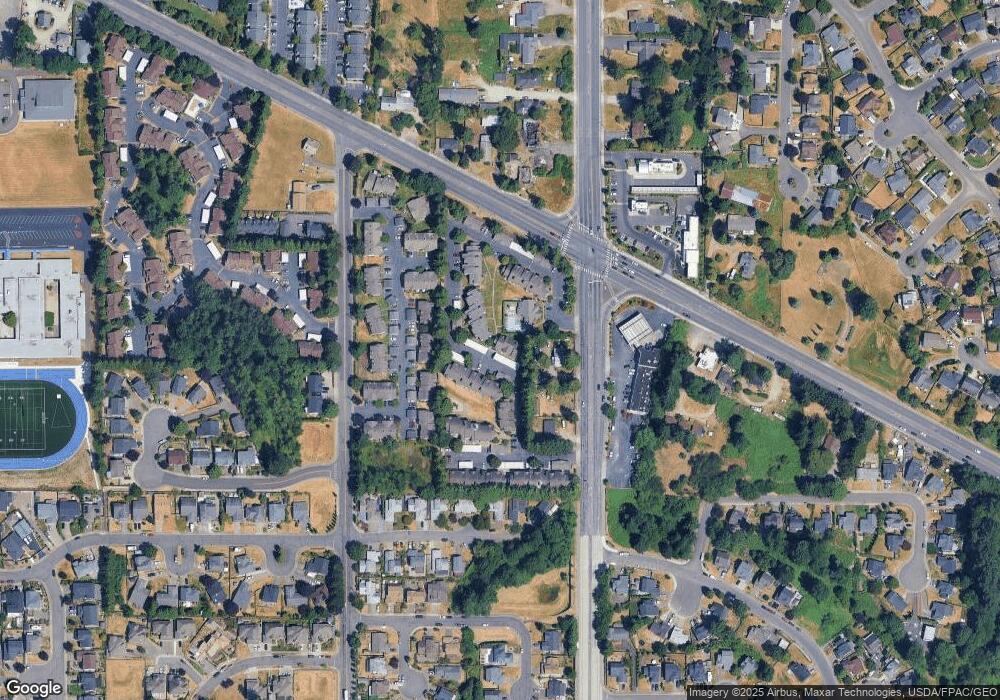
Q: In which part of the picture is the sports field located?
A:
left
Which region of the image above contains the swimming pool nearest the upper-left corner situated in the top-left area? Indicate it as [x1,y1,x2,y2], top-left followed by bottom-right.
[184,94,206,117]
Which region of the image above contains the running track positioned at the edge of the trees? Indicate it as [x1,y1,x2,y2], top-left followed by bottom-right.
[0,367,88,470]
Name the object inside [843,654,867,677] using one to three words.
house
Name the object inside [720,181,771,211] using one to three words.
barn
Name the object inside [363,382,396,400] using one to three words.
building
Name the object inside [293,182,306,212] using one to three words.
shed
